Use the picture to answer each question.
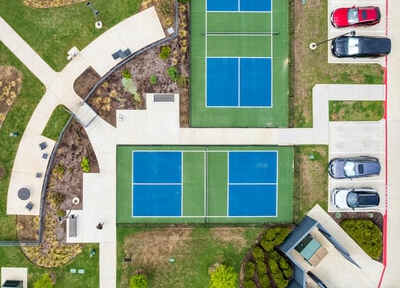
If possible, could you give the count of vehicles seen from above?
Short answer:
four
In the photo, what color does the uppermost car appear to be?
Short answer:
red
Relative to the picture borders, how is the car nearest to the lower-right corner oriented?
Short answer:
horizontally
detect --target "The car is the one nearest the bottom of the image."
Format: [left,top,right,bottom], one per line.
[328,188,382,213]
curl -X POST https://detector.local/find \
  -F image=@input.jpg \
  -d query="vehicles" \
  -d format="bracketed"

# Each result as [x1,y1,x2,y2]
[325,156,382,181]
[328,188,382,213]
[327,5,382,30]
[328,34,392,60]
